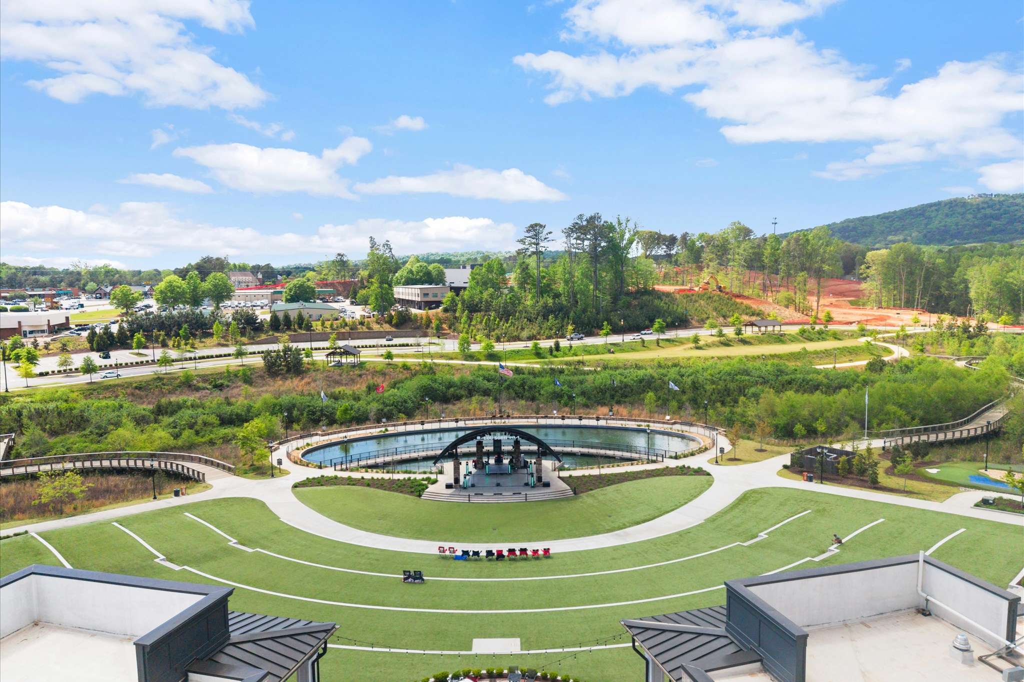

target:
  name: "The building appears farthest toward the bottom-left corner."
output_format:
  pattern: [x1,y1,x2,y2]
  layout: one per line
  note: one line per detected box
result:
[0,565,269,682]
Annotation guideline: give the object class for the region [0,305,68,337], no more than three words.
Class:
building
